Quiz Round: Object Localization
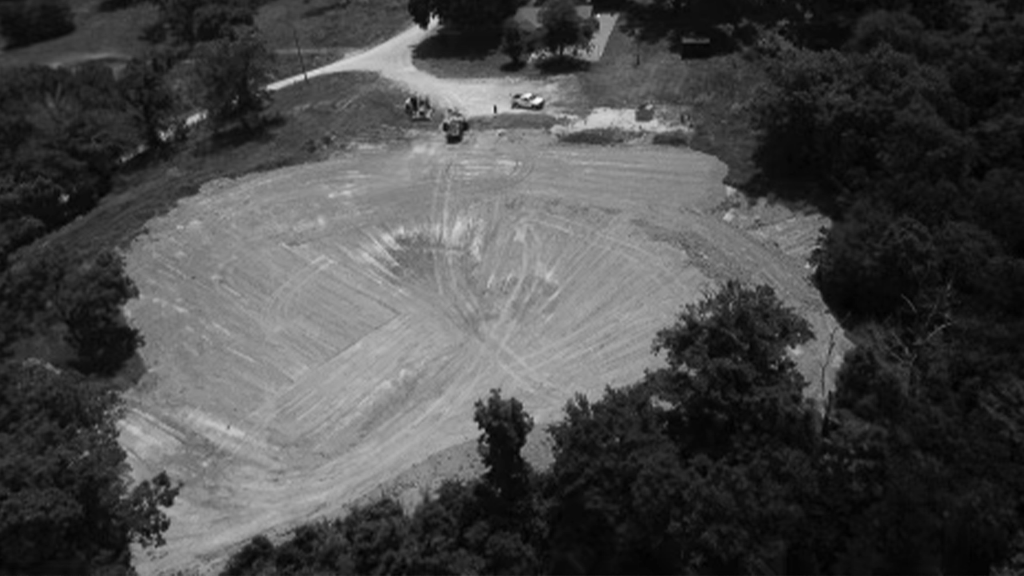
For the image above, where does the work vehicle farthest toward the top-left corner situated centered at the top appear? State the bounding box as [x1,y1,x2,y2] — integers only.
[406,87,435,126]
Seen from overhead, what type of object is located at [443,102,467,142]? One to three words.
work vehicle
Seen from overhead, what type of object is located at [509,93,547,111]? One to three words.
vehicle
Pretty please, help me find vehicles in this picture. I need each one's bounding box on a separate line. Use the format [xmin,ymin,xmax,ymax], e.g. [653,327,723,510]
[509,93,547,111]
[406,87,435,126]
[443,102,467,142]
